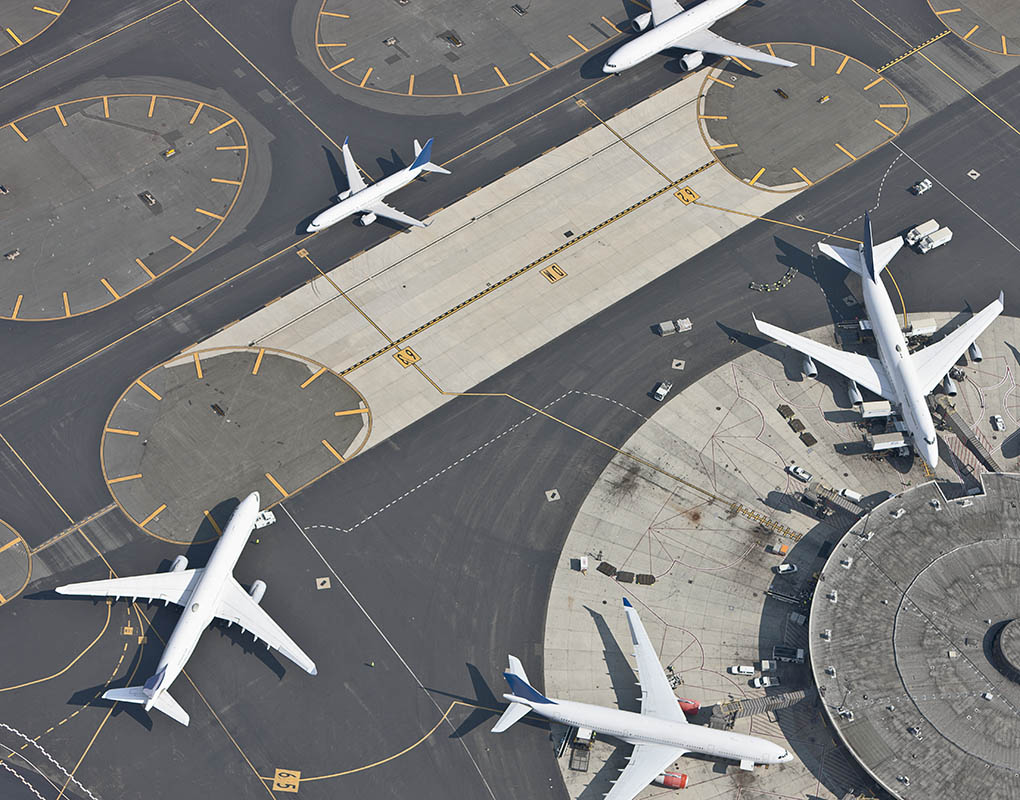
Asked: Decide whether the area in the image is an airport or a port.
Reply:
airport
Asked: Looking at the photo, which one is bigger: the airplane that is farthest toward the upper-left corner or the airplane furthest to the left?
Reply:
the airplane furthest to the left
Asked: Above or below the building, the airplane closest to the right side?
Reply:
above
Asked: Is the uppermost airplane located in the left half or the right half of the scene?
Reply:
right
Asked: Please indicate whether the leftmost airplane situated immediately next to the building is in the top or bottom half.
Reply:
bottom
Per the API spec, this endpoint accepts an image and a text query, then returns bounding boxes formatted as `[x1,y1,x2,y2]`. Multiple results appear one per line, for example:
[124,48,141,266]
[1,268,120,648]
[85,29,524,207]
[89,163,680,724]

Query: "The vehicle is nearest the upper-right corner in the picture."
[911,181,932,194]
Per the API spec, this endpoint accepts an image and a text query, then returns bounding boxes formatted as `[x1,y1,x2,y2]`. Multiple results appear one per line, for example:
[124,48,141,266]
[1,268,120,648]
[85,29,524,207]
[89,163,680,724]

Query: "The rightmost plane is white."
[755,208,1005,469]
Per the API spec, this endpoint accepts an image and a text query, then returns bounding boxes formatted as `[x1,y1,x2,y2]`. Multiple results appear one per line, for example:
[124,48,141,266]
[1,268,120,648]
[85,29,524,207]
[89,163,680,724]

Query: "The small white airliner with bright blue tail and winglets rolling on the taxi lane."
[308,137,448,234]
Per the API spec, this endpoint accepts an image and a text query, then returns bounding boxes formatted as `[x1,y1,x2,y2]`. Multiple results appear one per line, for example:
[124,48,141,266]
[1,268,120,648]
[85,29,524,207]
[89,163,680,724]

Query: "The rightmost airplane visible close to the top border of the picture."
[601,0,796,79]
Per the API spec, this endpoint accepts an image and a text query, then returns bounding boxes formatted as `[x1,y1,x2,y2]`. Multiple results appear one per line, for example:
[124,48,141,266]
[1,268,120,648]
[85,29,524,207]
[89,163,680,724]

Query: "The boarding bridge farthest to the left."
[706,684,820,730]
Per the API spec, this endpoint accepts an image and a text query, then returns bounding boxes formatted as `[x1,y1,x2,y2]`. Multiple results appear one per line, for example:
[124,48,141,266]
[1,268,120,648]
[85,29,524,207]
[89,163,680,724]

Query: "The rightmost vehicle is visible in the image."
[993,414,1009,432]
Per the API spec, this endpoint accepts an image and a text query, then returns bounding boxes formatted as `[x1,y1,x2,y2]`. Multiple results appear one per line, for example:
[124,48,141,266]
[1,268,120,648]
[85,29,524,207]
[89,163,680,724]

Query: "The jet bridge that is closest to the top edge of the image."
[926,400,1006,473]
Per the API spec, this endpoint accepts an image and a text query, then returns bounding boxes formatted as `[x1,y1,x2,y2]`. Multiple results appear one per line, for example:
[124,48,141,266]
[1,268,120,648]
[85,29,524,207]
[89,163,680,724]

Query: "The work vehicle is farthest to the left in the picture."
[254,512,278,530]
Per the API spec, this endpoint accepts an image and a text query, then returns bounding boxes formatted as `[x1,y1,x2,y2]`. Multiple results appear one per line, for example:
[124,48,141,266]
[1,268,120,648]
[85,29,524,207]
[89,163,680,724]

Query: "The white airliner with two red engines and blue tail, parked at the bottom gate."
[491,595,791,800]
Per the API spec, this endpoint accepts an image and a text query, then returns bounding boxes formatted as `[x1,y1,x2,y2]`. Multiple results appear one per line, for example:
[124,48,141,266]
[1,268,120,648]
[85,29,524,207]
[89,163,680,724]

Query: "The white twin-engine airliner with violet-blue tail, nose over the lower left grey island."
[56,489,318,727]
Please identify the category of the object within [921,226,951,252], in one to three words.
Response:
truck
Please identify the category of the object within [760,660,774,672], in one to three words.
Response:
vehicle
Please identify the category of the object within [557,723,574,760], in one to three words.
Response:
work vehicle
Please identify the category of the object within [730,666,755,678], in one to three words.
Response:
vehicle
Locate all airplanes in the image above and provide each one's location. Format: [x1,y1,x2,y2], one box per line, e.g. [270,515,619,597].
[601,0,796,79]
[308,137,448,234]
[56,489,318,727]
[755,208,1005,469]
[491,595,791,800]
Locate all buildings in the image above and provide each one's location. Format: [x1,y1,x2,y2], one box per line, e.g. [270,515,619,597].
[807,472,1020,800]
